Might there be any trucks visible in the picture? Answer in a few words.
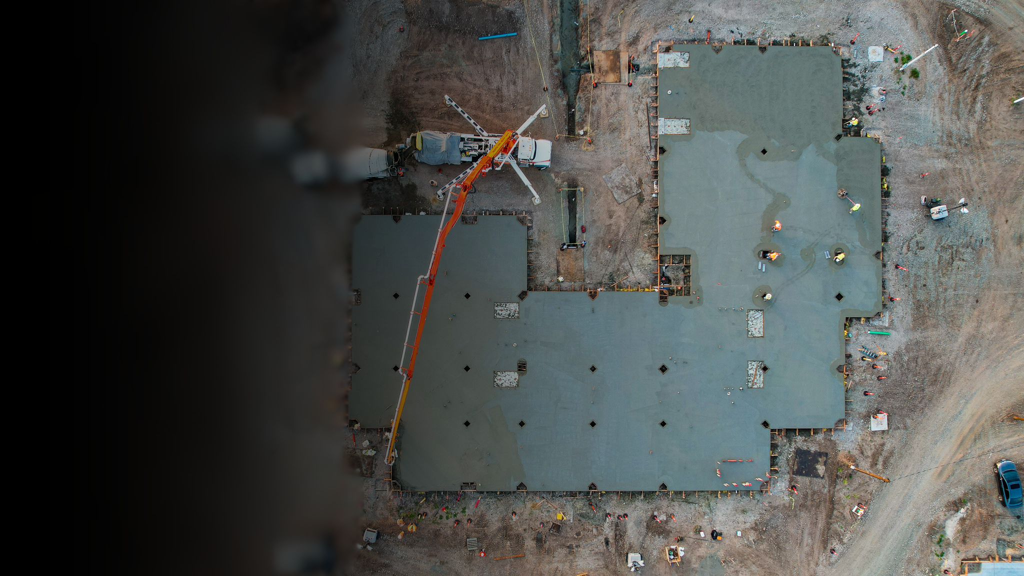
Yes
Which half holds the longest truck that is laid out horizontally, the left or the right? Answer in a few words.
left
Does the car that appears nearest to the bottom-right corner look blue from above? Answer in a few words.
Yes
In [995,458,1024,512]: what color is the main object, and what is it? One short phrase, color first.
blue car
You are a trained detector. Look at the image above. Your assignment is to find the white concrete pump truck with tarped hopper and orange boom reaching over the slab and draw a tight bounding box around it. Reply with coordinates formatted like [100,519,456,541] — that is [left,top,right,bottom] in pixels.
[383,96,554,465]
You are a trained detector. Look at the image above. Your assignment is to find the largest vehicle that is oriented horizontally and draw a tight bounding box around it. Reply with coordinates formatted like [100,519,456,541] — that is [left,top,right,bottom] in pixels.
[290,144,417,186]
